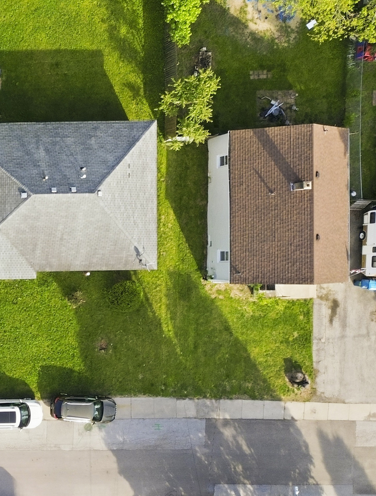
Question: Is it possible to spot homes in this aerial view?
Yes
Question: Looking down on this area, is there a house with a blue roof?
No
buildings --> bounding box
[207,122,354,298]
[0,118,158,279]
